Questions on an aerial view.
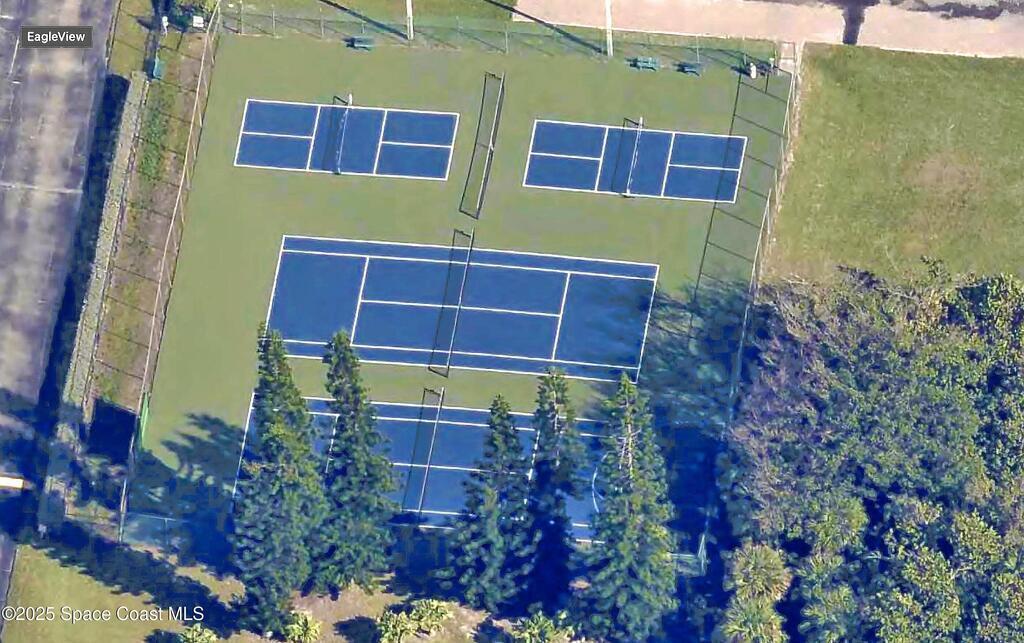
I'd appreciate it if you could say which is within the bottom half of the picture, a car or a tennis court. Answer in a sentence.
It is a tennis court that can be seen within the bottom half of the picture.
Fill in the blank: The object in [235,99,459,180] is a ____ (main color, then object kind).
blue sports court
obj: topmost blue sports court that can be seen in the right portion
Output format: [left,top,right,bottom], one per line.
[522,120,747,203]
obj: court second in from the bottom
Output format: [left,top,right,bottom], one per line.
[262,235,659,383]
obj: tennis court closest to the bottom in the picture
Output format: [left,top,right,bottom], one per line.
[230,392,630,540]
